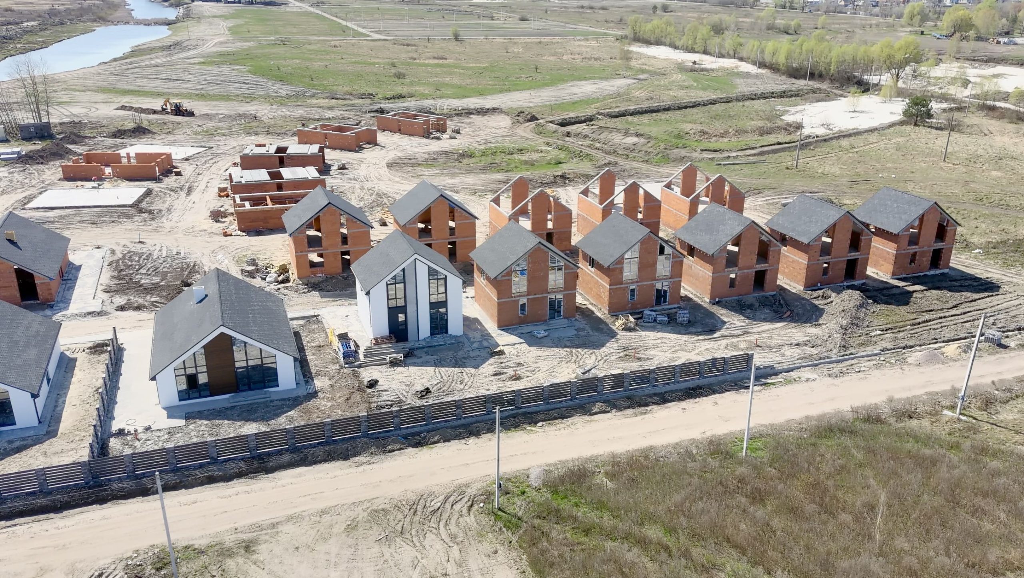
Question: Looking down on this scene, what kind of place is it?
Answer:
residential area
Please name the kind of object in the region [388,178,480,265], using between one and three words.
house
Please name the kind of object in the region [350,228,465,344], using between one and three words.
house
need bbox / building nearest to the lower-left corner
[0,299,76,444]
